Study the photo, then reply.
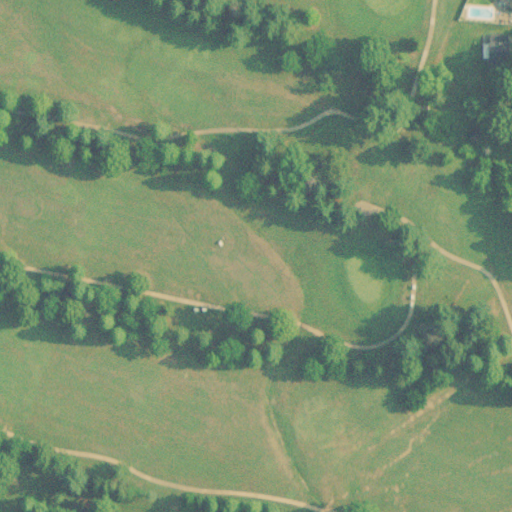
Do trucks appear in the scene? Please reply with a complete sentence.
No, there is no truck in the image.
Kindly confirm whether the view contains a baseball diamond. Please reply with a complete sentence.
No, no baseball diamond is visible in the view.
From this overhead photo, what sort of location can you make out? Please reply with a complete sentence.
The area seen from above is a golf course.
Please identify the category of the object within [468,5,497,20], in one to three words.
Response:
swimming pool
